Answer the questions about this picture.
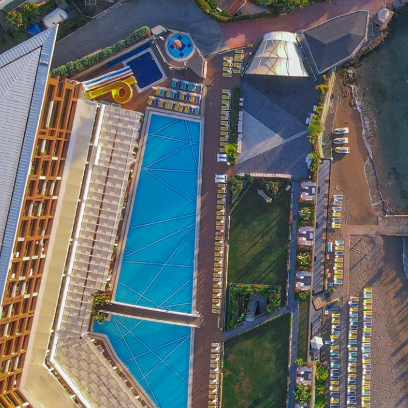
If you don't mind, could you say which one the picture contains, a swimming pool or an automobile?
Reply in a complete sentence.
It is a swimming pool that can be seen here.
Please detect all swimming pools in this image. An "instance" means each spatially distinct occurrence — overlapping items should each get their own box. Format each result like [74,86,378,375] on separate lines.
[89,109,205,408]
[122,47,169,94]
[163,30,197,64]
